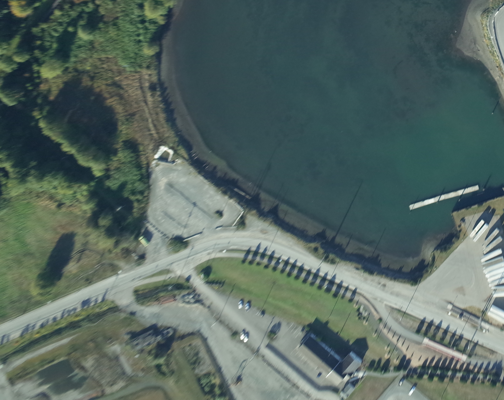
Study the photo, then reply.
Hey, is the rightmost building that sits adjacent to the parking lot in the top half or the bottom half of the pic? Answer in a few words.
bottom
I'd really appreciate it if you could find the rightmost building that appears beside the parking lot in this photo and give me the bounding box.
[342,347,365,377]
